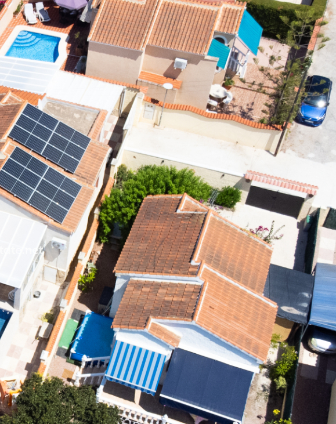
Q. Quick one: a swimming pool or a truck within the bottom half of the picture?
swimming pool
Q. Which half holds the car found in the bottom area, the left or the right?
right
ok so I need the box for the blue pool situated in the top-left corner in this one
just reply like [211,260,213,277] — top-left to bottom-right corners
[0,25,69,67]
